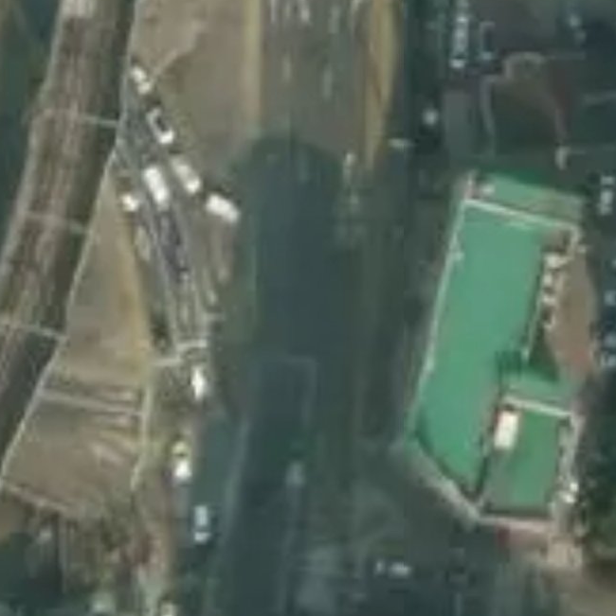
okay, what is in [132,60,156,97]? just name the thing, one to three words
car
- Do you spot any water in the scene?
No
